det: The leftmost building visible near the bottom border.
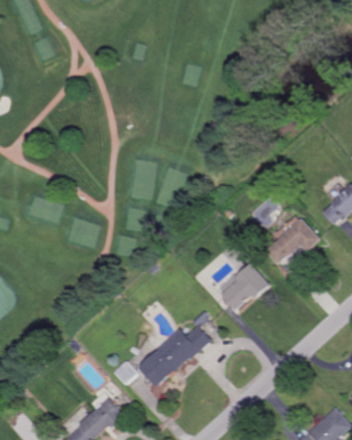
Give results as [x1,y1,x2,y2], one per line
[66,396,118,440]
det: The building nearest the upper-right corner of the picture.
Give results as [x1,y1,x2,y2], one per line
[323,184,352,226]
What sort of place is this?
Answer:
golf course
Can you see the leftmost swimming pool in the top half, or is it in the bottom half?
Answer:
bottom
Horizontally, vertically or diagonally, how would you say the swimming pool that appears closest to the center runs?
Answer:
diagonally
